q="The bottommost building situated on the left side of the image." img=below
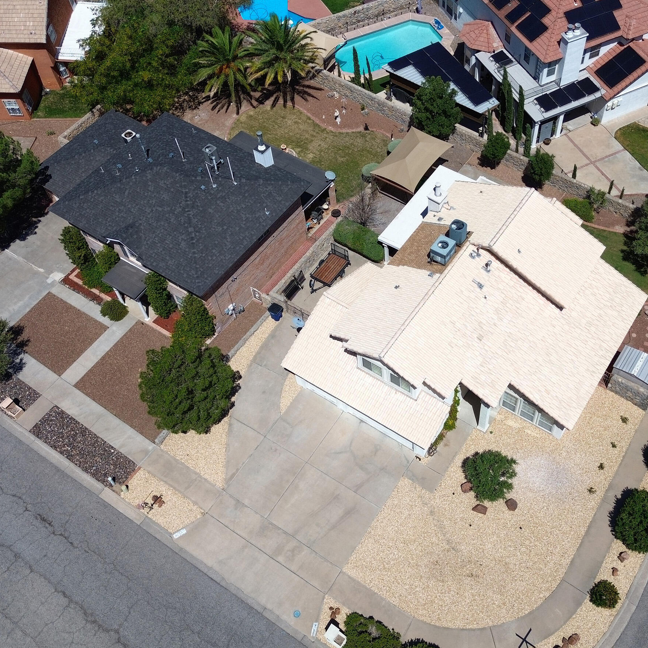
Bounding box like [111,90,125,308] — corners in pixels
[26,110,337,332]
